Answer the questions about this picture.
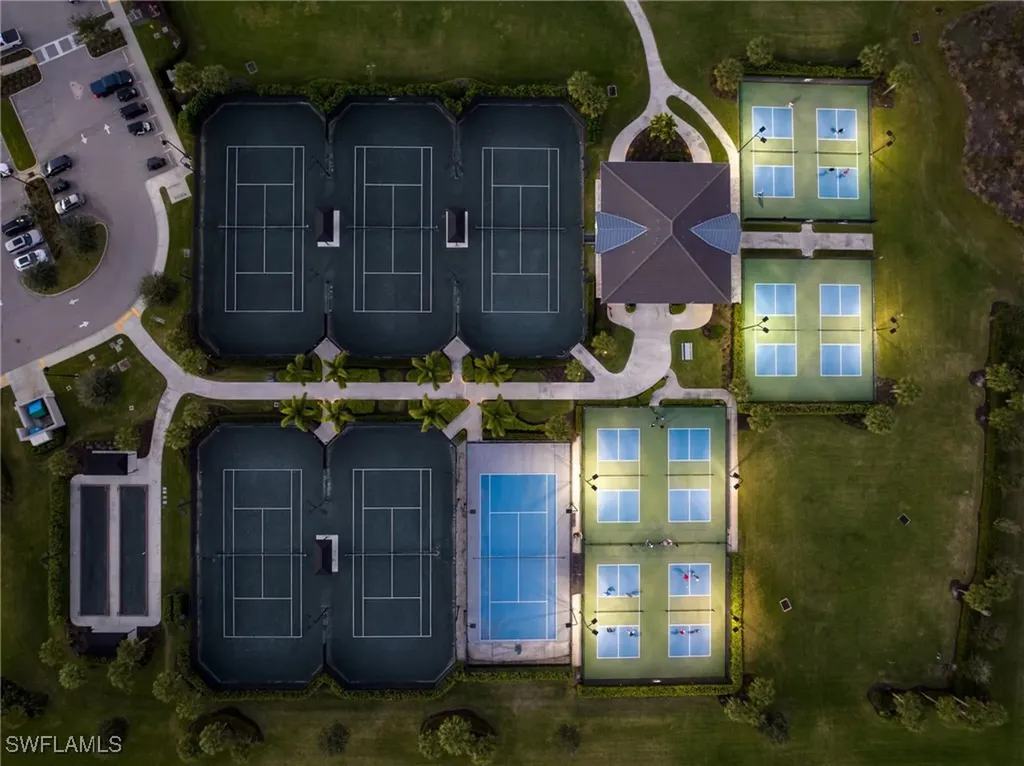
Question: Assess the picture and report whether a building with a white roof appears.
No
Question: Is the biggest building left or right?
right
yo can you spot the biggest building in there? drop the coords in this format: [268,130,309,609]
[595,161,740,305]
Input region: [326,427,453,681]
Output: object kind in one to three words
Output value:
tennis court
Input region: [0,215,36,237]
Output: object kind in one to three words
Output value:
car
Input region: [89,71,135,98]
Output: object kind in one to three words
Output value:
truck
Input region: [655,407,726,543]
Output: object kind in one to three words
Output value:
sports court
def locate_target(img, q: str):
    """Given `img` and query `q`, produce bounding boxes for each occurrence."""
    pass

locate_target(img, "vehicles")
[89,71,135,98]
[144,155,169,172]
[12,248,50,270]
[117,101,150,122]
[55,193,87,215]
[49,177,73,195]
[40,154,74,178]
[0,215,36,237]
[126,120,154,138]
[3,231,44,254]
[0,30,18,53]
[114,85,140,104]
